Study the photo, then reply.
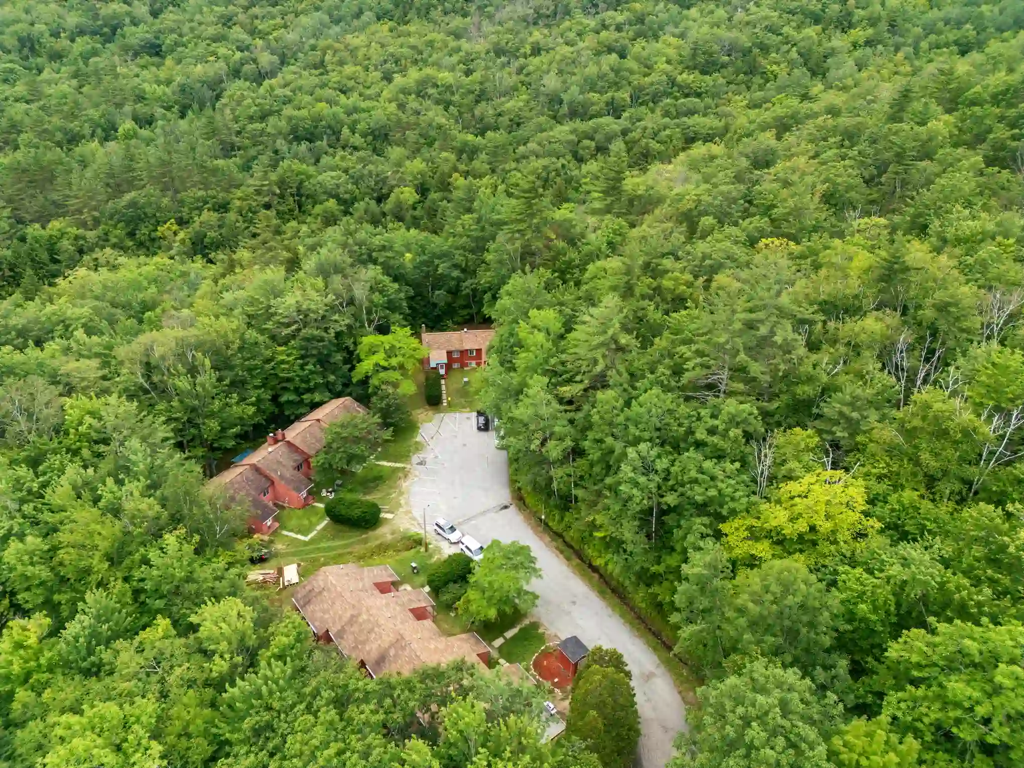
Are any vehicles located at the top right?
No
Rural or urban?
rural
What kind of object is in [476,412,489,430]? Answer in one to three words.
vehicle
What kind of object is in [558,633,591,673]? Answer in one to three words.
shed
